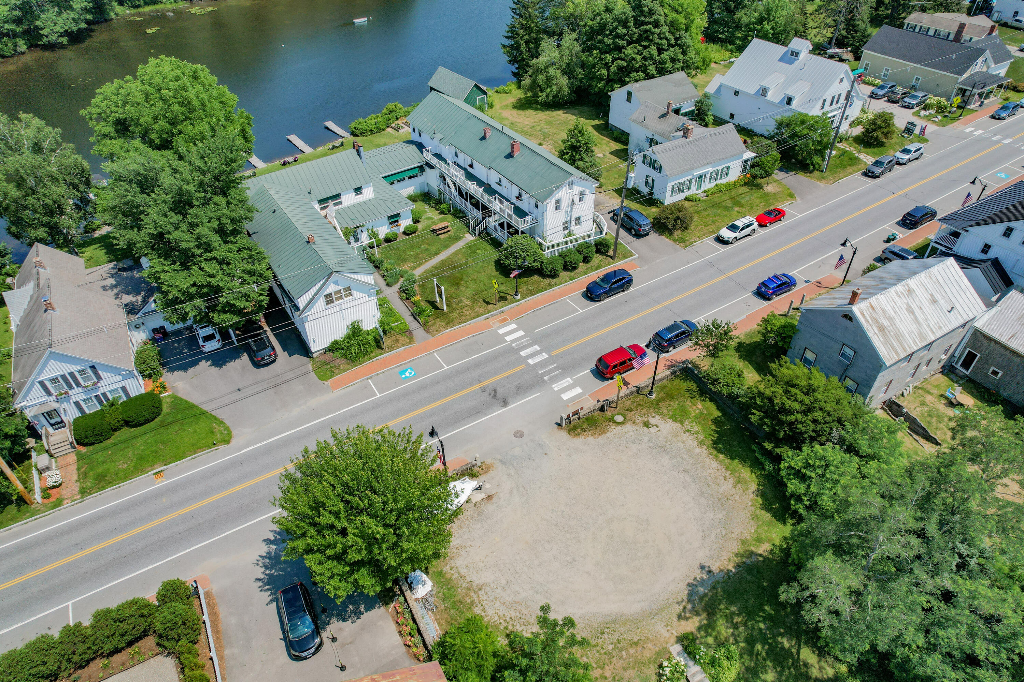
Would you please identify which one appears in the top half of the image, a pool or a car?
car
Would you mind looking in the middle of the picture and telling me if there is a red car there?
Yes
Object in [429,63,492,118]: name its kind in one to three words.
building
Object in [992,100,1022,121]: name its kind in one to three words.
car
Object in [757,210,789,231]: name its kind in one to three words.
car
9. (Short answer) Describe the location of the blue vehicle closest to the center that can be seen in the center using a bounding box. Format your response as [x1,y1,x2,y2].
[585,269,635,302]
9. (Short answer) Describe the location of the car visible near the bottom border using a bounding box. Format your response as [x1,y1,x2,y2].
[276,581,326,668]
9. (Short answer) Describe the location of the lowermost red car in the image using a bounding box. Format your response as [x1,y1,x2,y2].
[592,344,647,380]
